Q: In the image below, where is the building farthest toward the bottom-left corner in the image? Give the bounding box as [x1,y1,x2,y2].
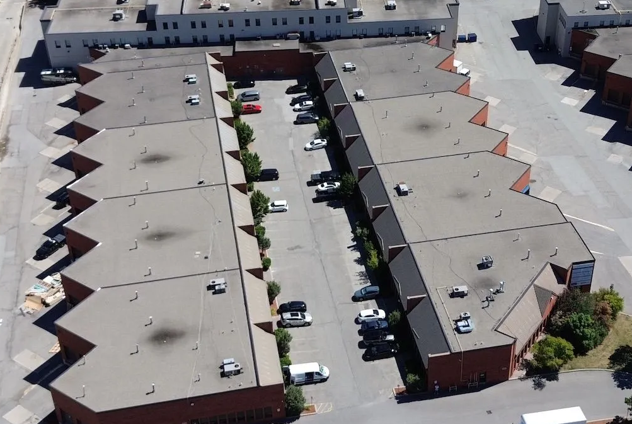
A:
[51,45,286,424]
